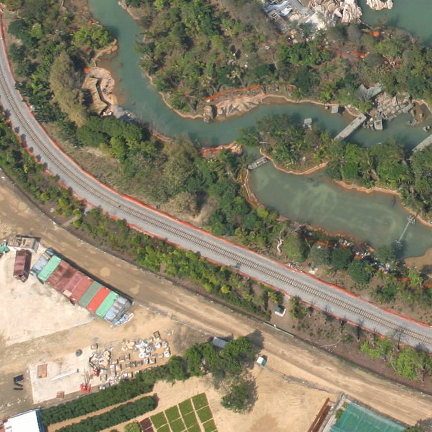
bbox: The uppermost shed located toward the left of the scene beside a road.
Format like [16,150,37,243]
[7,236,41,256]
